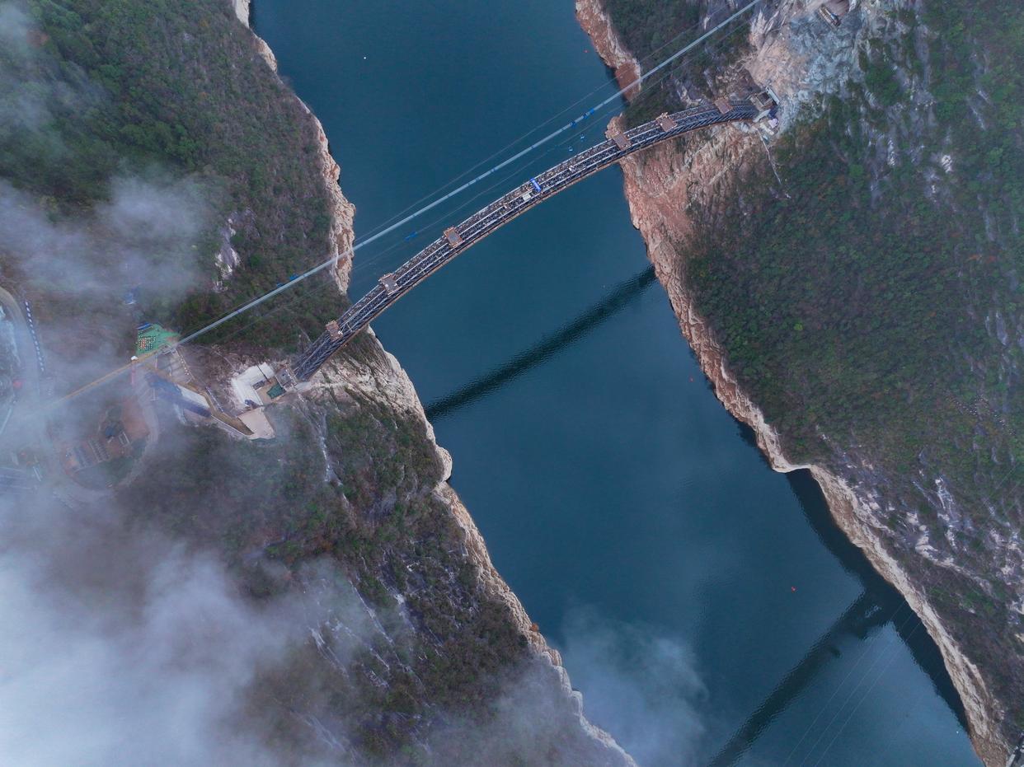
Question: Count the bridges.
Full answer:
The picture shows just 1 bridge.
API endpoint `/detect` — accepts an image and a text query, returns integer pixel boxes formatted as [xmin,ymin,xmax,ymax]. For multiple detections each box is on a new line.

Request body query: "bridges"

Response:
[291,92,764,395]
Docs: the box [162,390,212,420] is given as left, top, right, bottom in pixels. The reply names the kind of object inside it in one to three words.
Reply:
shed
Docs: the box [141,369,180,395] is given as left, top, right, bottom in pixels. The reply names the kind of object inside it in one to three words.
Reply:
shed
